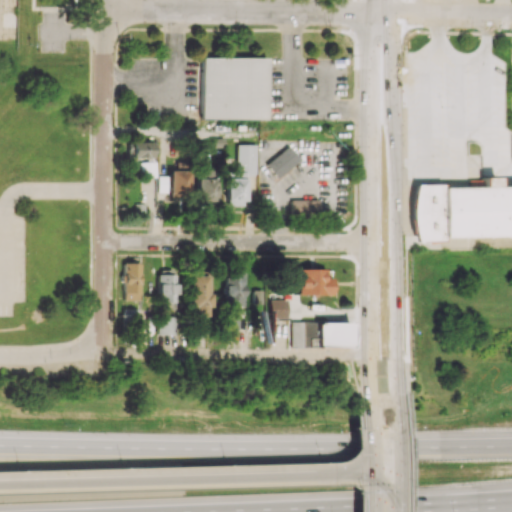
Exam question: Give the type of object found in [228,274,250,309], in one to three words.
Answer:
house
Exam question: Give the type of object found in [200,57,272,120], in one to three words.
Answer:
building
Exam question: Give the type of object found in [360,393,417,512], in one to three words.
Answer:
bridge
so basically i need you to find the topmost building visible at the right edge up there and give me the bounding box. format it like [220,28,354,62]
[418,178,512,244]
